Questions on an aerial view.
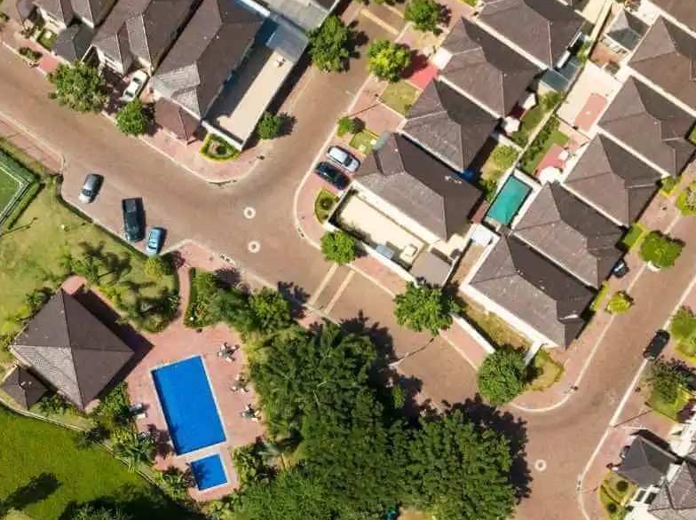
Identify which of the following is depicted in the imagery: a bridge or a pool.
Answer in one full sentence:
It is a pool that can be seen here.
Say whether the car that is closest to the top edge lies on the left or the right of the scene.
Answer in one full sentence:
The car that is closest to the top edge appears in the left half of the scene.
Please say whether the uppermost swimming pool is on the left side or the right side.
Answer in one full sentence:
It is on the right.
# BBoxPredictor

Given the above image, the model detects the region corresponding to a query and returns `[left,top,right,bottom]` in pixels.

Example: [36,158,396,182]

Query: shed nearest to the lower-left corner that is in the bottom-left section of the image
[0,365,47,409]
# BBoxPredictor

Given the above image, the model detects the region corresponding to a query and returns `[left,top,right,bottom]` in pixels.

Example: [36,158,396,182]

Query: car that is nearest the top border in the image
[121,71,147,102]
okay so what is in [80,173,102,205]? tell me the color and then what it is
gray car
